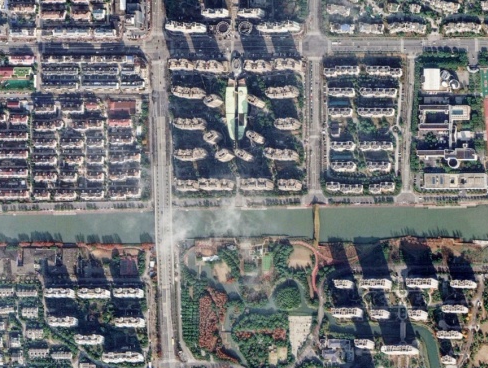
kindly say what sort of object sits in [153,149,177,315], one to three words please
bridge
